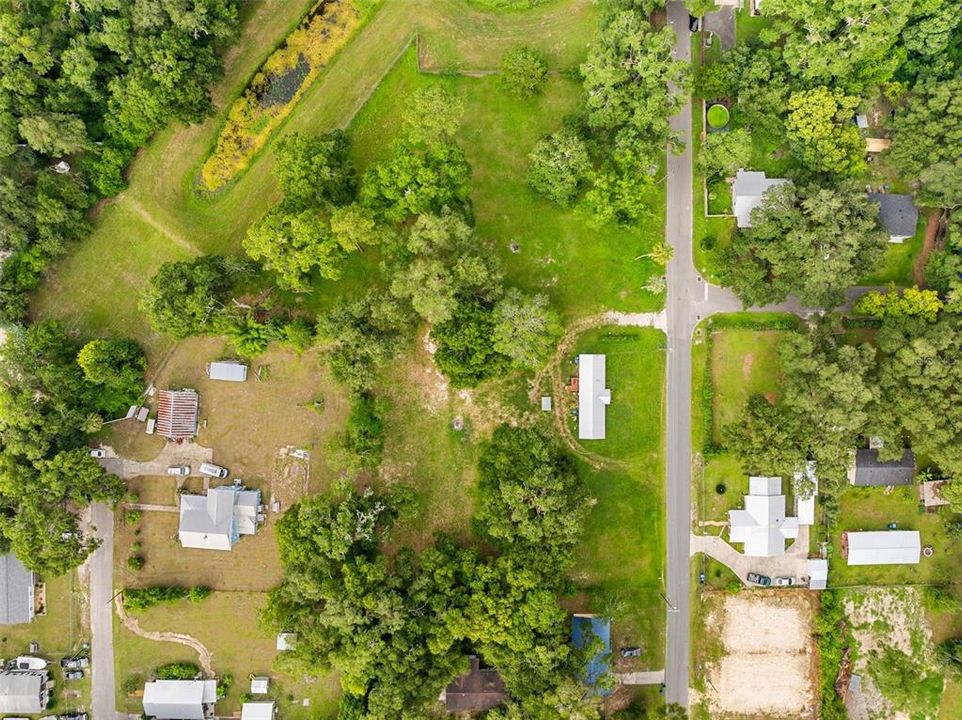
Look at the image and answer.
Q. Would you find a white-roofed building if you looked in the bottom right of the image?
Yes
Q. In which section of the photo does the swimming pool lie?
top right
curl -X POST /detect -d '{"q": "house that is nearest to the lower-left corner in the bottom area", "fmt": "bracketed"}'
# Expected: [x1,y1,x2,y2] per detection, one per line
[0,668,55,713]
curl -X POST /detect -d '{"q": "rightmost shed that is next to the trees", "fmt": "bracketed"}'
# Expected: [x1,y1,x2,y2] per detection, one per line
[921,480,954,507]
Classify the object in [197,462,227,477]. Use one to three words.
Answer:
vehicle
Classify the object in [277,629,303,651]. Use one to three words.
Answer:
shed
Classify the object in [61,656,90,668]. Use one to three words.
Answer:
vehicle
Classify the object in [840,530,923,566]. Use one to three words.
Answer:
building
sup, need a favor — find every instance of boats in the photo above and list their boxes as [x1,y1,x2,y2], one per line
[13,655,57,668]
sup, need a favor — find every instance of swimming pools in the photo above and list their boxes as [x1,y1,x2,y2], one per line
[704,105,730,133]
